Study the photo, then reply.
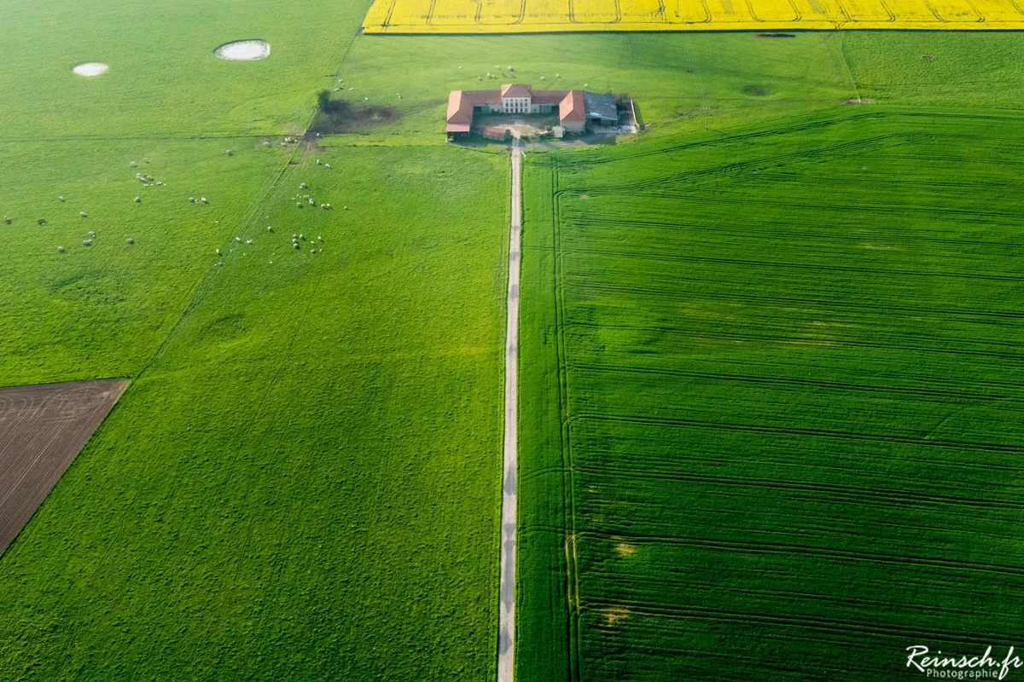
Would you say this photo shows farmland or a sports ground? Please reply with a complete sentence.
What you see here is farmland.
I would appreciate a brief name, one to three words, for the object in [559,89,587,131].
barn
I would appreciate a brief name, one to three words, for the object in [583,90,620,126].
shed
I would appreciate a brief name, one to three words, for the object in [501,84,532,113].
house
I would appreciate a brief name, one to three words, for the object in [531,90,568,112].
barn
